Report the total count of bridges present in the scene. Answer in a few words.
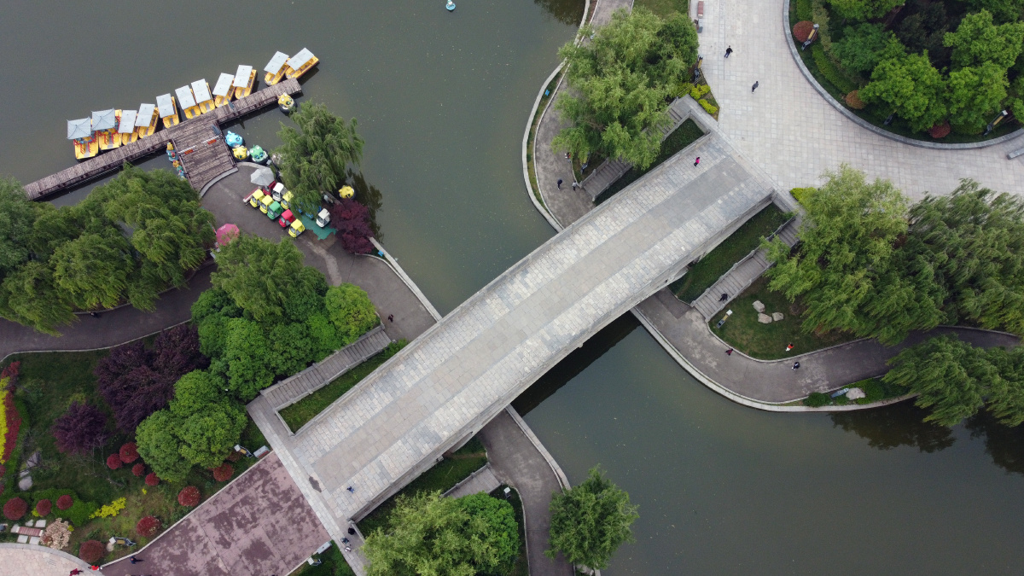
1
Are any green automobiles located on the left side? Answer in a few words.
Yes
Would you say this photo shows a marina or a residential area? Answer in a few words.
marina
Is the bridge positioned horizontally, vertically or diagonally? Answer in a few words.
diagonally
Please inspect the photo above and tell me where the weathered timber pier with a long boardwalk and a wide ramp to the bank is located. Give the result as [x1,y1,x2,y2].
[24,78,300,198]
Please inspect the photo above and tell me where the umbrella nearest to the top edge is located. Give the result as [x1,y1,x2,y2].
[252,165,277,187]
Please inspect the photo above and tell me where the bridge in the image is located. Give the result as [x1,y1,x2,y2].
[293,130,774,521]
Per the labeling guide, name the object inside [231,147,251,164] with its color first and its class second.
yellow boat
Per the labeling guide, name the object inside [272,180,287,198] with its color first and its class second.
white car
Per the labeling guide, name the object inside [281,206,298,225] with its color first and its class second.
red car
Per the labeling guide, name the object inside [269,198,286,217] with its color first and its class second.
green car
